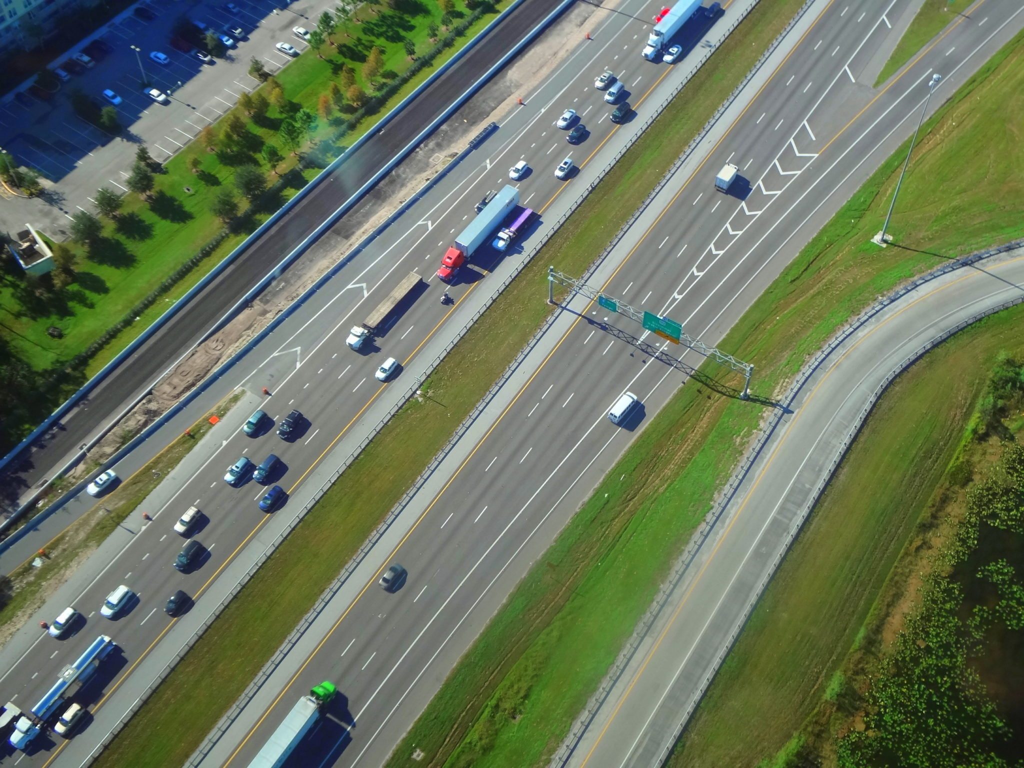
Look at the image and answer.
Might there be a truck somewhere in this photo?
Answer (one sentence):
Yes, the picture does show a truck.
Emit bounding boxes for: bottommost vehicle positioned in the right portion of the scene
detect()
[607,392,638,425]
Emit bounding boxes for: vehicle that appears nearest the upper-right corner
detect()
[701,2,724,23]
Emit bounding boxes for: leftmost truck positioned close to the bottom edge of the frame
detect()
[0,702,21,733]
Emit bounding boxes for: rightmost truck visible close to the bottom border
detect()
[239,681,338,768]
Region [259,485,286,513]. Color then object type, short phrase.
blue car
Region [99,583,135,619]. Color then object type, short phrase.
white car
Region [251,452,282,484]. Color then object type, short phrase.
blue car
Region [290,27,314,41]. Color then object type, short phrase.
white car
